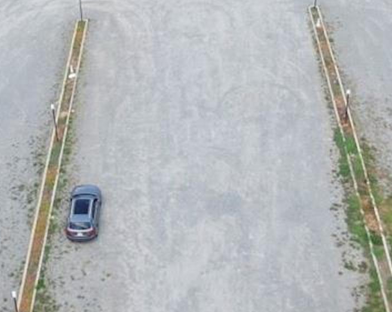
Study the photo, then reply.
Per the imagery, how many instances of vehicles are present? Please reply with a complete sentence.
Just 1 vehicle appears in this view.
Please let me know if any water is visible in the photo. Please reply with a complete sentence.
No, the scene doesn't show any water.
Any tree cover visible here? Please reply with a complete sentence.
No, there's no tree cover in this view.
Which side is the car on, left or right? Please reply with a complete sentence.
It is on the left.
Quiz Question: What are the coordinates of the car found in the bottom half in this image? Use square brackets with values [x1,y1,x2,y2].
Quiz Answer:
[64,181,101,238]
